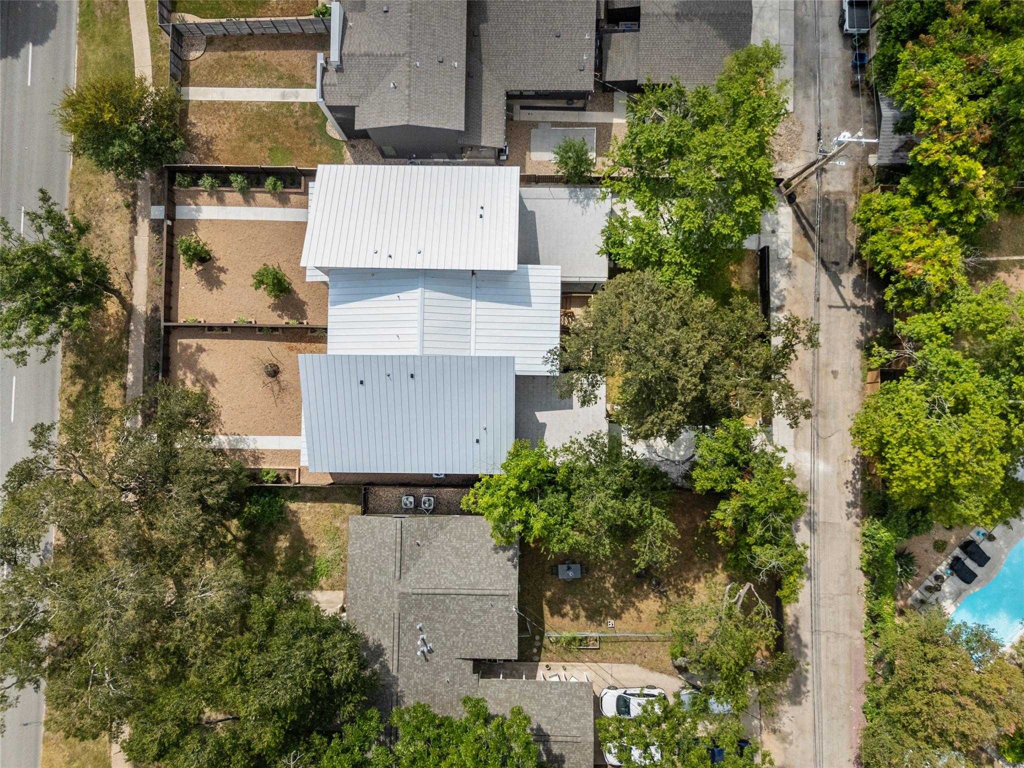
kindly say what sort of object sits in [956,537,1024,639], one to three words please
swimming pool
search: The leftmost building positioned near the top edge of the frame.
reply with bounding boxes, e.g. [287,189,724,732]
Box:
[316,0,596,159]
